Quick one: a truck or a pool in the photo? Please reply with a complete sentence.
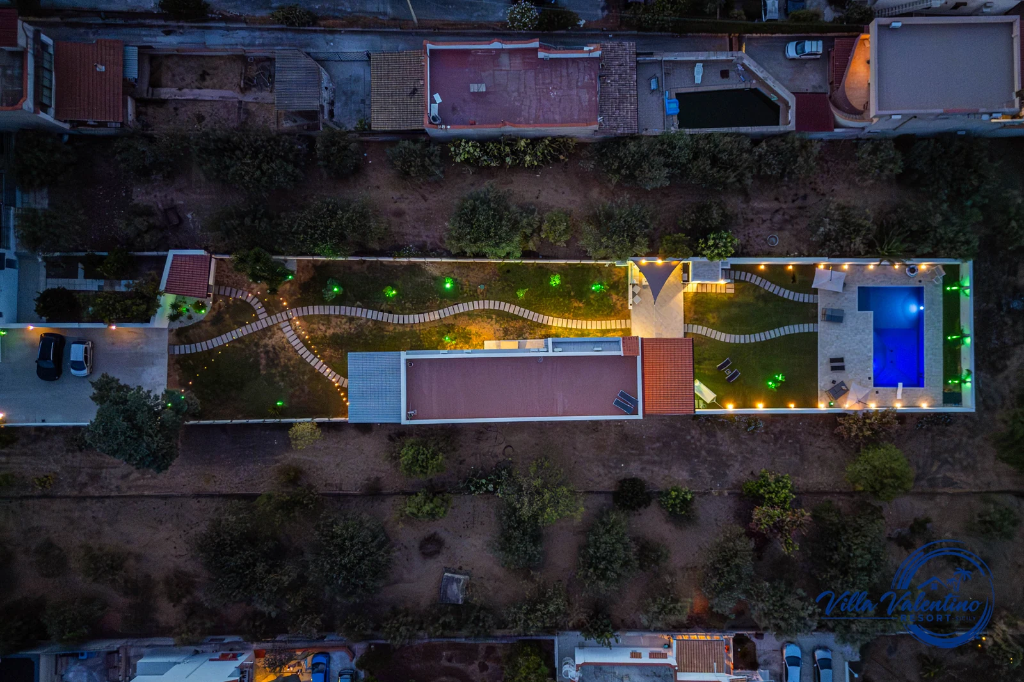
This aerial view contains a pool.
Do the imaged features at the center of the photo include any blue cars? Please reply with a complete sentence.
No, no blue car is visible at the center of the photo.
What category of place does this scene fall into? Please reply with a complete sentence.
This image shows a residential area.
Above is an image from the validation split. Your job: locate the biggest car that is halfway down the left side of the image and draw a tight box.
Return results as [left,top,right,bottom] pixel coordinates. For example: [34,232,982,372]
[36,333,66,380]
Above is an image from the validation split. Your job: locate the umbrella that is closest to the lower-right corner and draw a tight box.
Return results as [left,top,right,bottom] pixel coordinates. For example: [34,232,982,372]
[847,382,871,416]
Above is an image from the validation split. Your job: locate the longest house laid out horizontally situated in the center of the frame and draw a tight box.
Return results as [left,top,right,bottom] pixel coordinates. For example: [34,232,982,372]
[348,336,696,429]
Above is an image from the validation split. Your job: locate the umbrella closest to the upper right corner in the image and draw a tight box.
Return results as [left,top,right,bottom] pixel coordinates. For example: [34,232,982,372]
[812,268,846,292]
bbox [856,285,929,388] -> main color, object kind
blue swimming pool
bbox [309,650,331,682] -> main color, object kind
blue car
